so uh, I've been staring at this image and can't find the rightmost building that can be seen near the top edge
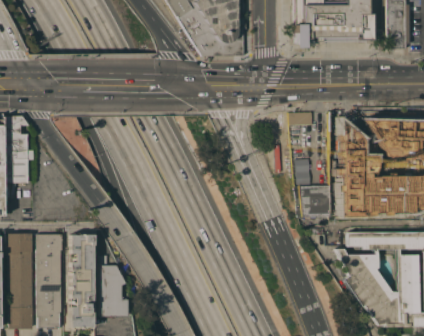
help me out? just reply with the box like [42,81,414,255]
[382,0,410,52]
